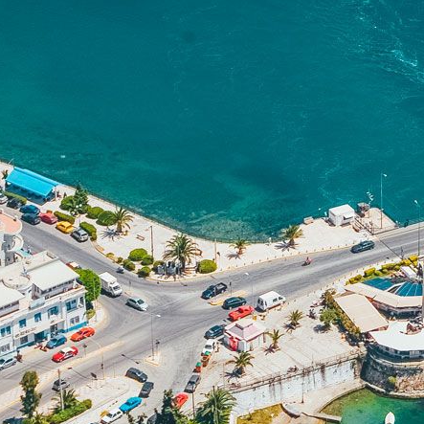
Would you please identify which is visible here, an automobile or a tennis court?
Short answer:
automobile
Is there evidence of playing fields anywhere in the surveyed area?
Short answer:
No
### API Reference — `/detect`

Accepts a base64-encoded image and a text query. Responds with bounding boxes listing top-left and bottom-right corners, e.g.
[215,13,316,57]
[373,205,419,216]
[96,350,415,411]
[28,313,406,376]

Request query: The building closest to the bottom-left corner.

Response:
[0,249,91,356]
